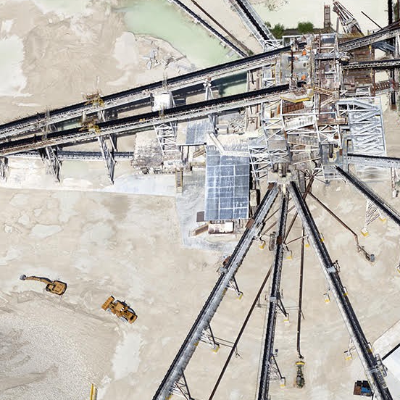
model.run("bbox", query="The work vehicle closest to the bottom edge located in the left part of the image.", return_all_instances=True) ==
[100,295,137,320]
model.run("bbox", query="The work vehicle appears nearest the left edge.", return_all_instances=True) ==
[19,274,69,292]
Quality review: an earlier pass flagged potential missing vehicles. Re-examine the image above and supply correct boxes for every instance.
[19,274,69,292]
[100,295,137,320]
